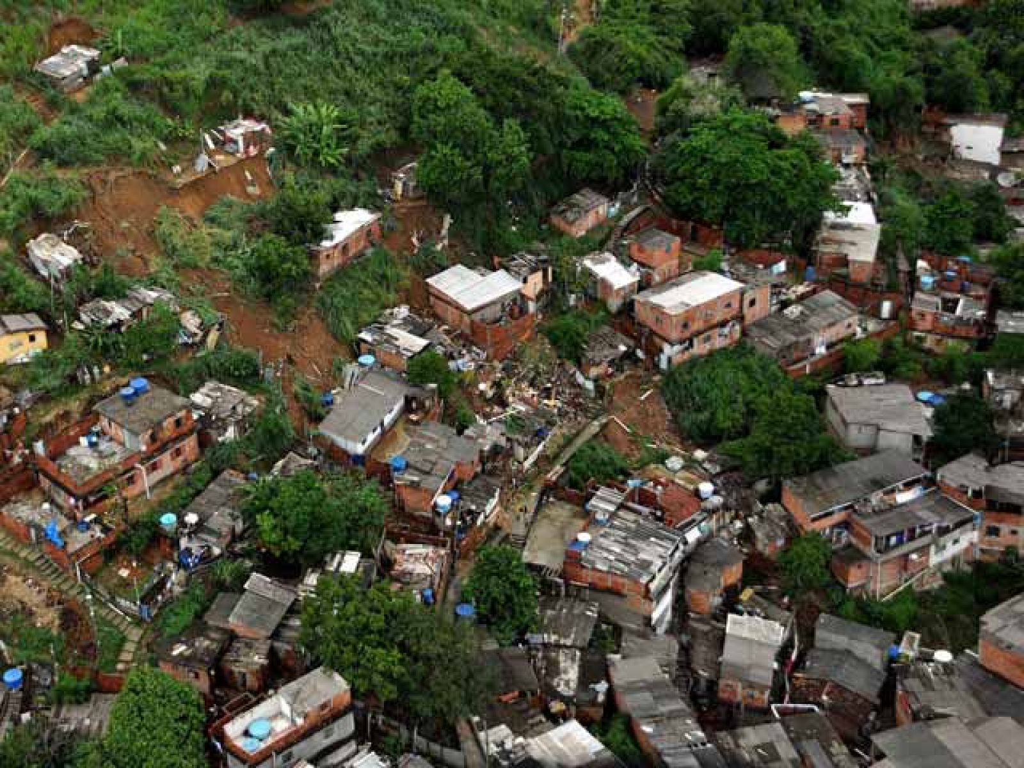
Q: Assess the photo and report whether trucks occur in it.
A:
No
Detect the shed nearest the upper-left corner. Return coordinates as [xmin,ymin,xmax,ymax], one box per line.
[34,43,101,91]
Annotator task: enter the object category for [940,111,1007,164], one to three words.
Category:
house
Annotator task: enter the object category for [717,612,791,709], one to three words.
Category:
house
